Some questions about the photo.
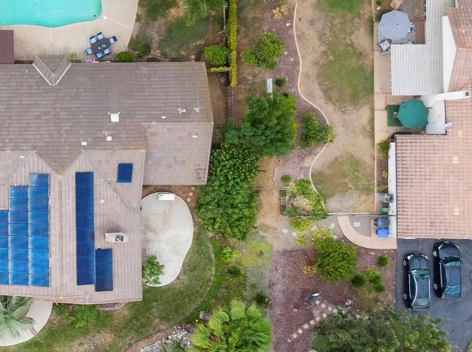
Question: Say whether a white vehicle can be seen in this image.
No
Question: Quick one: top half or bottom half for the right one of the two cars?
bottom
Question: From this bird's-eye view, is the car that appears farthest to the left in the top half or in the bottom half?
bottom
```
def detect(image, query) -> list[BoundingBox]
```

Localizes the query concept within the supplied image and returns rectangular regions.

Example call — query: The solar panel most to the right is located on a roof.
[118,164,133,184]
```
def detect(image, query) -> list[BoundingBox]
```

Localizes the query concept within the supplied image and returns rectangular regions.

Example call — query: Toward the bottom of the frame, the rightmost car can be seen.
[430,240,463,299]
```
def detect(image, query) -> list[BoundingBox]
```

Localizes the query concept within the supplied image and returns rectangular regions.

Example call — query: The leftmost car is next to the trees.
[400,251,432,310]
